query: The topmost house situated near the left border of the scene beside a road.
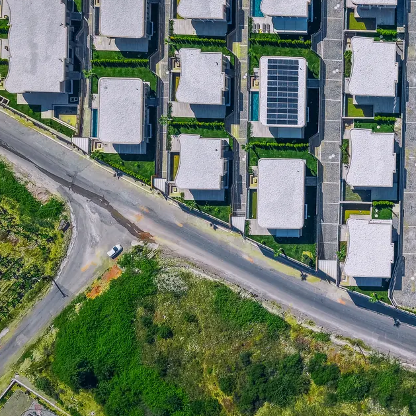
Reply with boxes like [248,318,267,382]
[5,0,77,92]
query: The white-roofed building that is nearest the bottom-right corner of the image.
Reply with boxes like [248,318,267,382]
[344,218,394,279]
